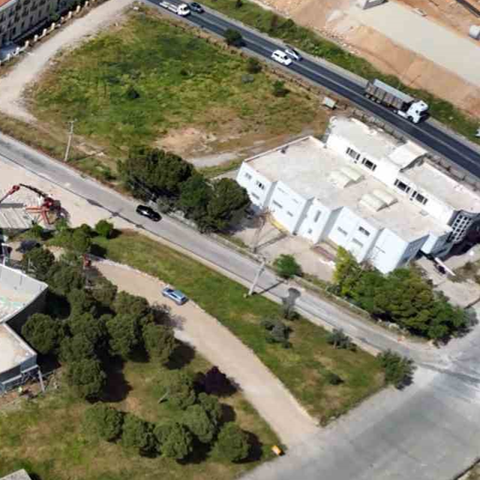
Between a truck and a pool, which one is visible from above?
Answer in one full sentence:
There is a truck in the scene.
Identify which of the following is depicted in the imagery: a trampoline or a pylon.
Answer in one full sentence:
Visible in the photo is a pylon.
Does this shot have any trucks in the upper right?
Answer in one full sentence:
Yes, looking in the upper right, one can make out a truck.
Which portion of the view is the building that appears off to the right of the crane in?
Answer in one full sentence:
The building that appears off to the right of the crane appears toward the right of the photo.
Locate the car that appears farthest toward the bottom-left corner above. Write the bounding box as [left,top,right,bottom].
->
[162,284,190,303]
